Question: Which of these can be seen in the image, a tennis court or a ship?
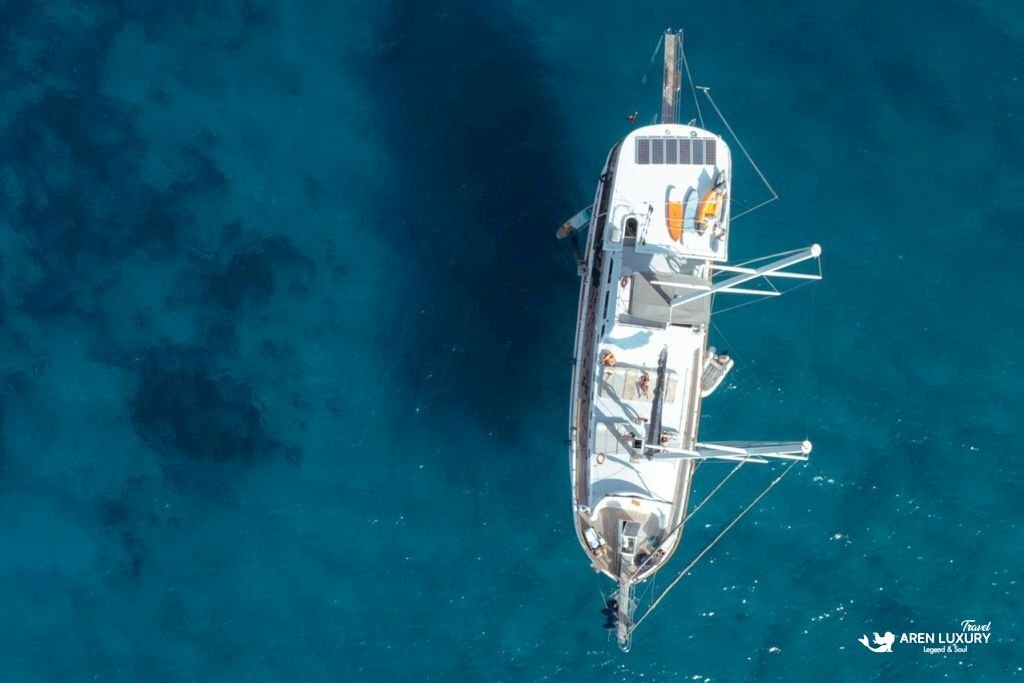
ship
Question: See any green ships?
No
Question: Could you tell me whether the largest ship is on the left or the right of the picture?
right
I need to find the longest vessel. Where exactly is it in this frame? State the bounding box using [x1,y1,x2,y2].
[564,27,824,652]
